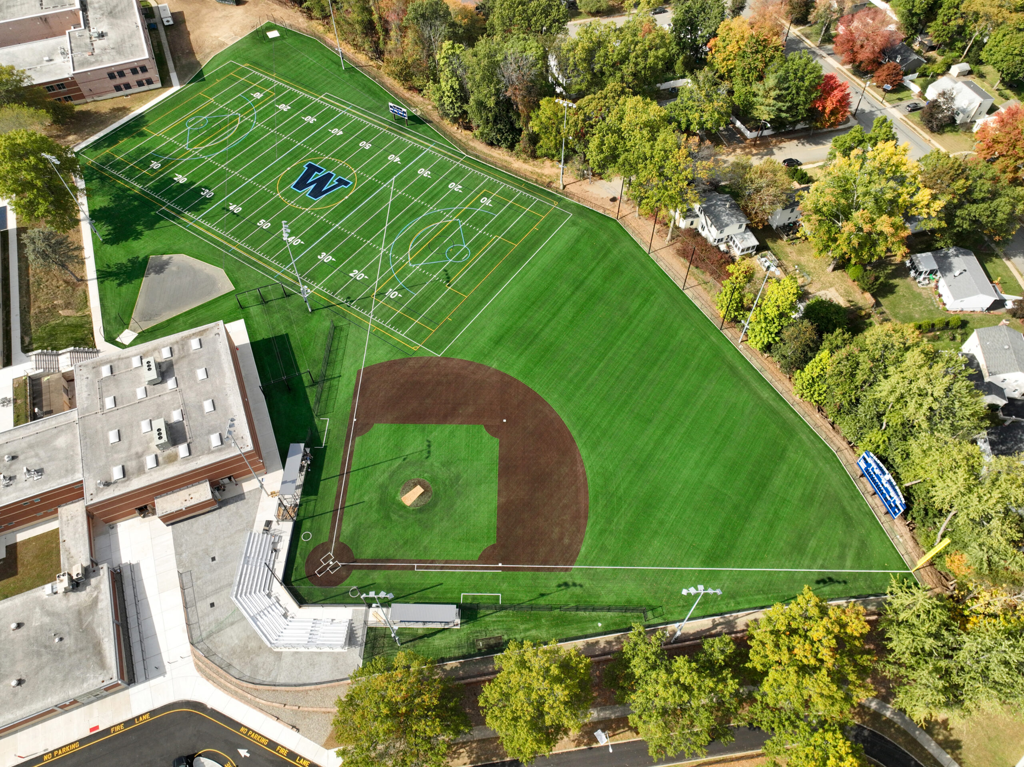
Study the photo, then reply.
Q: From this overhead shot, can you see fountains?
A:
No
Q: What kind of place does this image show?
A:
sports ground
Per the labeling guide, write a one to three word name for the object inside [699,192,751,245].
house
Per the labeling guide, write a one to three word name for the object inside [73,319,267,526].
building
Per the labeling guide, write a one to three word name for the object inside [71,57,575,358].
sports field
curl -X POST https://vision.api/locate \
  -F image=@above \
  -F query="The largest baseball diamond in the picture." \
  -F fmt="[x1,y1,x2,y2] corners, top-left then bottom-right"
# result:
[75,21,919,675]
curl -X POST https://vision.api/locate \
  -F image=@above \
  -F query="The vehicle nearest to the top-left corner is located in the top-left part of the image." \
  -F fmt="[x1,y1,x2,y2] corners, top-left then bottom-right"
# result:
[158,3,173,25]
